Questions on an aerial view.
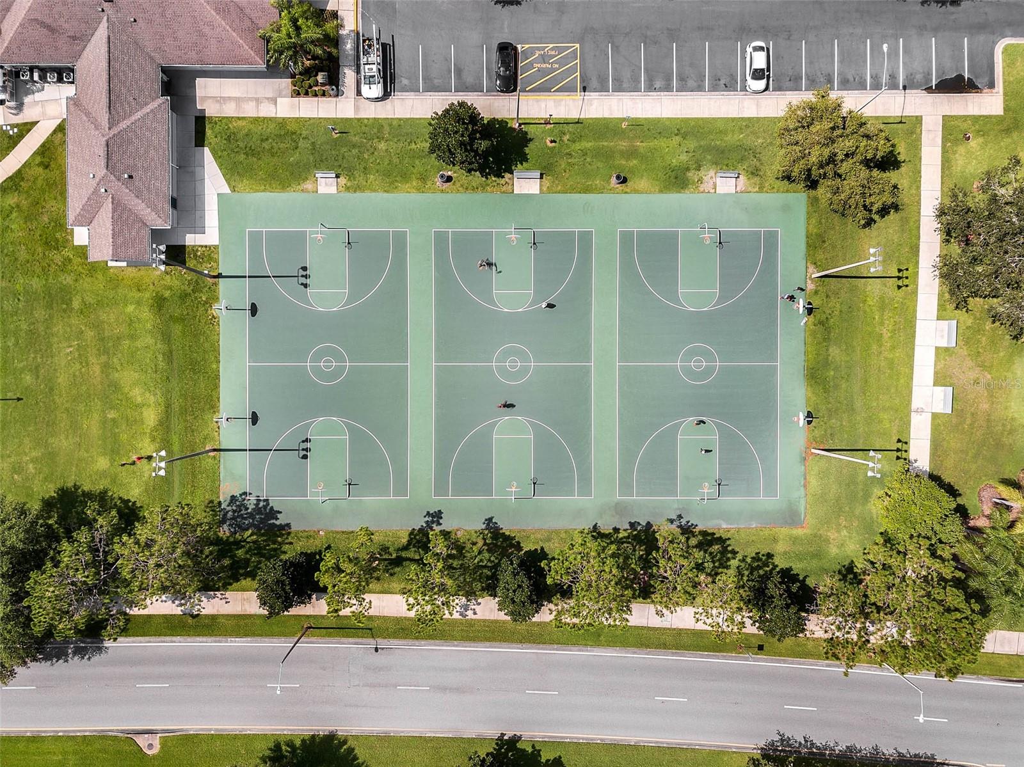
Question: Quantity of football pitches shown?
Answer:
none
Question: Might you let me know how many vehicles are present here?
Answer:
three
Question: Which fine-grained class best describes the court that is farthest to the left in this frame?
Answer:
basketball court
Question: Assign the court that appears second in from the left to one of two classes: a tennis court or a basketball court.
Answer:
basketball court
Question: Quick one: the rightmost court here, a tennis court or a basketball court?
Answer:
basketball court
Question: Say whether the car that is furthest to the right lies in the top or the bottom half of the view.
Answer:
top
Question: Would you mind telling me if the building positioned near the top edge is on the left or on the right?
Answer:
left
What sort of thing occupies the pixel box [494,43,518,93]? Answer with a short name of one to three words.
car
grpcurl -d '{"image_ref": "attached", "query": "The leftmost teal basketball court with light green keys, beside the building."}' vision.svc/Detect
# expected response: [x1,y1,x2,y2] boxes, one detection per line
[247,229,409,498]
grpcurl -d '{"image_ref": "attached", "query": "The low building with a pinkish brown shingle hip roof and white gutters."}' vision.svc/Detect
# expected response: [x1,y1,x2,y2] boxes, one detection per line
[0,0,272,265]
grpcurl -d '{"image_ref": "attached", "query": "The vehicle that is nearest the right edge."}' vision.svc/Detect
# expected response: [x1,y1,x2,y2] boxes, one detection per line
[744,42,769,94]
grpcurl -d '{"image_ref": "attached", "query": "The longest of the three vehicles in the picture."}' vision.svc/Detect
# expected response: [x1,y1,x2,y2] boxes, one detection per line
[360,22,385,100]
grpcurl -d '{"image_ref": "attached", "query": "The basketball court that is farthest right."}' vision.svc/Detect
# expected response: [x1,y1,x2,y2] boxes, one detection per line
[617,229,780,499]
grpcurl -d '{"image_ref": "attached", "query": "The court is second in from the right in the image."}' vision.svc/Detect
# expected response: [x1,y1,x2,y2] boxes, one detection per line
[433,230,594,498]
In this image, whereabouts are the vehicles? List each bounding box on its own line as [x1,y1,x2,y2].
[360,22,385,100]
[494,43,518,93]
[744,42,769,94]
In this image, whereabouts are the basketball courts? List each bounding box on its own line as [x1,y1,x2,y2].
[617,229,780,499]
[247,229,409,498]
[433,230,594,498]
